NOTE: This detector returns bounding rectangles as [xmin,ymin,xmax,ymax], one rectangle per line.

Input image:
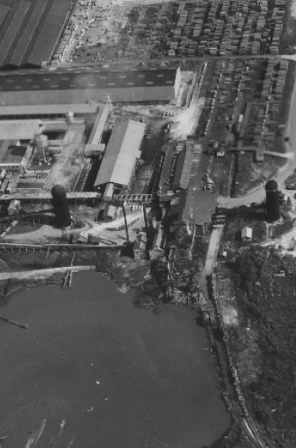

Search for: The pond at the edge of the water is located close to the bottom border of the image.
[0,274,233,448]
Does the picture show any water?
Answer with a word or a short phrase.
Yes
